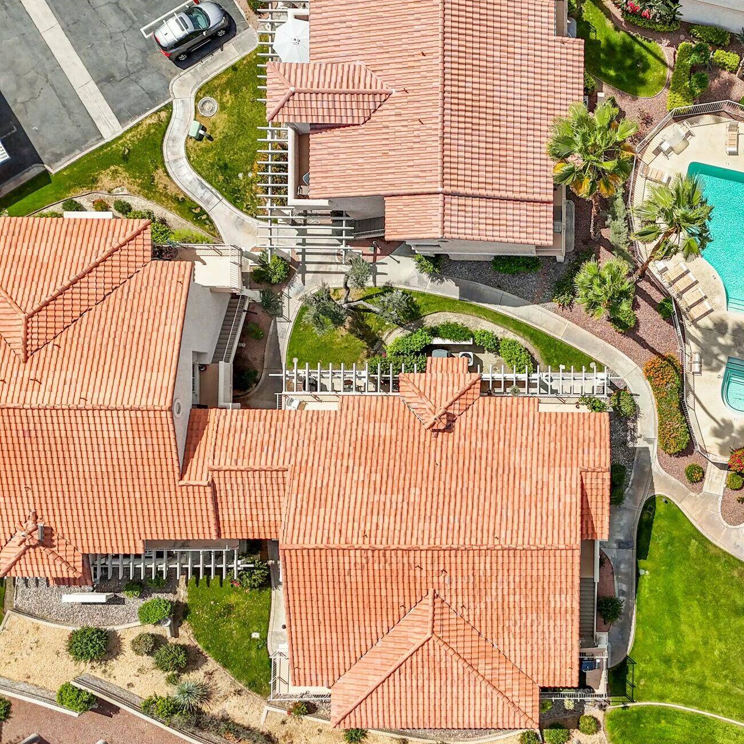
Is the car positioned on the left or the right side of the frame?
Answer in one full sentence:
The car appears in the left half of the scene.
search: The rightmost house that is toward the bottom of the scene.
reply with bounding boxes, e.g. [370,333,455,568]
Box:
[207,358,612,733]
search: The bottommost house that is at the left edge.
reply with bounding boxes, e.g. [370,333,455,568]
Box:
[0,215,268,586]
